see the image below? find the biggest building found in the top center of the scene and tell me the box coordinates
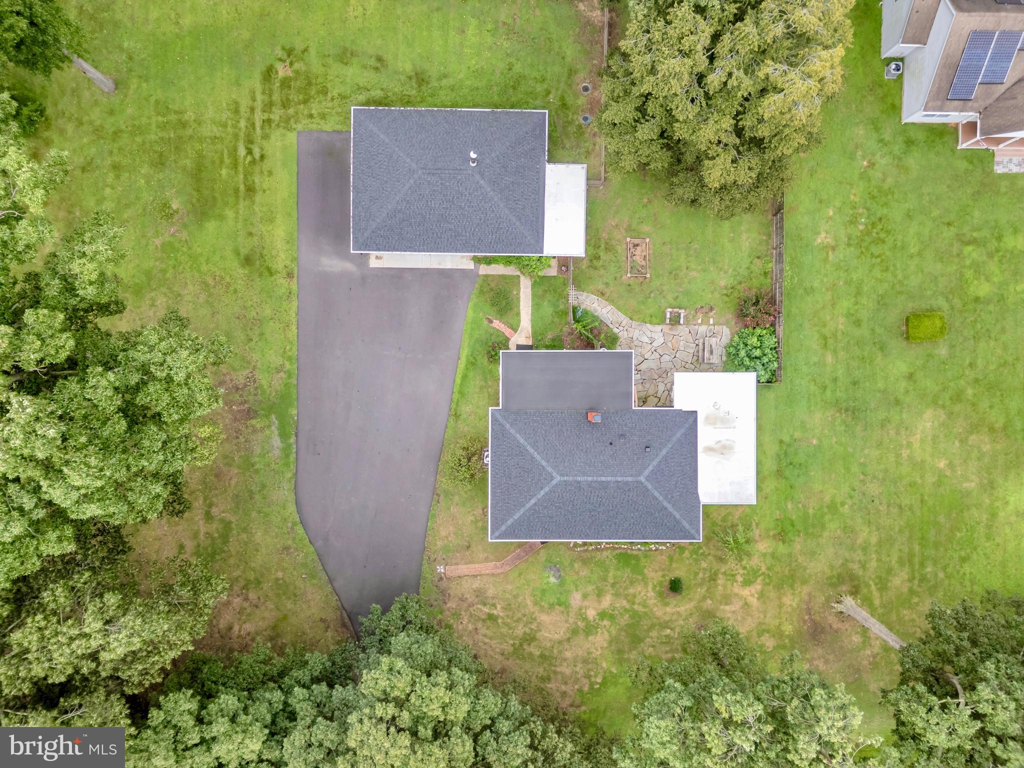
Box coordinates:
[351,106,587,258]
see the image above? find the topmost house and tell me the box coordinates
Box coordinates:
[881,0,1024,159]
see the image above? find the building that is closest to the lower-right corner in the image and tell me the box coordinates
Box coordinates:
[489,349,757,542]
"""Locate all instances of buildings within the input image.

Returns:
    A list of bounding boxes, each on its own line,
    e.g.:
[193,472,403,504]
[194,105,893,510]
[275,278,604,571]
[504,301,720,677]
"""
[489,349,757,542]
[881,0,1024,159]
[351,106,587,258]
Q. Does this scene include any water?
No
